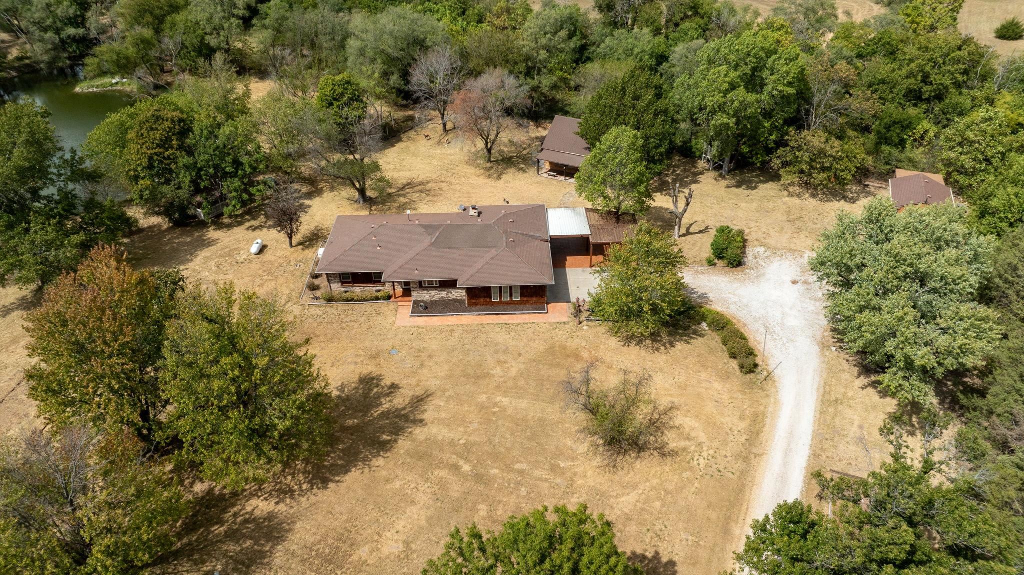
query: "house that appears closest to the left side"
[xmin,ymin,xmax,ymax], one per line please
[315,199,555,306]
